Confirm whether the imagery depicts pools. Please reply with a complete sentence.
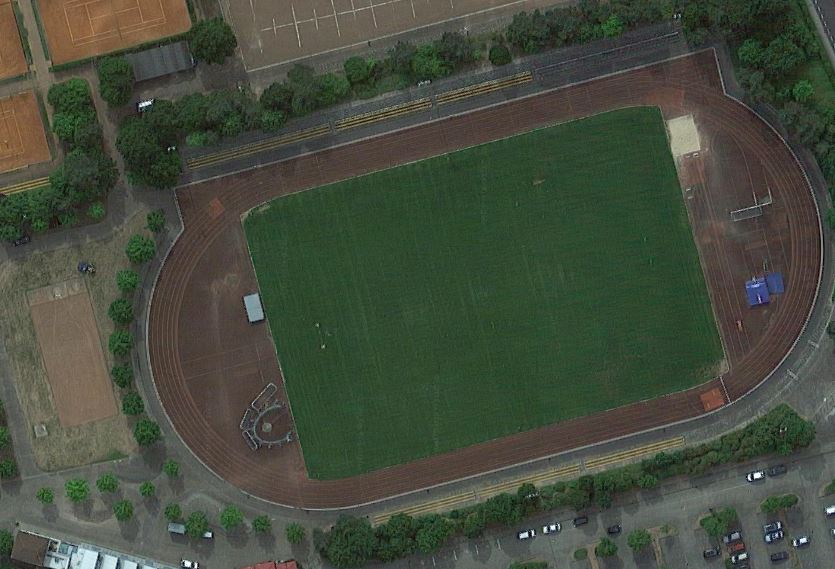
No, there is no pool in the image.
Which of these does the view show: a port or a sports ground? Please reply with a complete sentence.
The picture captures a sports ground.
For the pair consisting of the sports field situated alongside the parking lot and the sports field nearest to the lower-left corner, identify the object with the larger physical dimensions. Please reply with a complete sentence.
The sports field situated alongside the parking lot takes up more space than the sports field nearest to the lower-left corner does.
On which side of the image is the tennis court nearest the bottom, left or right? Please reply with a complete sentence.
The tennis court nearest the bottom sits on the left side.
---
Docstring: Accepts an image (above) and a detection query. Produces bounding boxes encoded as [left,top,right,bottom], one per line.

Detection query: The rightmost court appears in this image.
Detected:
[226,0,527,73]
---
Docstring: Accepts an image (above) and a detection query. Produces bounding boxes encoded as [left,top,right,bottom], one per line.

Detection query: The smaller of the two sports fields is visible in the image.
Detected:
[27,279,118,426]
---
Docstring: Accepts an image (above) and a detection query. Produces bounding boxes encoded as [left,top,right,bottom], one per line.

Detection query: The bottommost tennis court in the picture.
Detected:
[0,90,51,174]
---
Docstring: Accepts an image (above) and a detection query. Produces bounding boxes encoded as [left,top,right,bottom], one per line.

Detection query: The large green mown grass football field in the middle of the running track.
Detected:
[240,105,728,481]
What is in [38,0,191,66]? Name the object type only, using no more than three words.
tennis court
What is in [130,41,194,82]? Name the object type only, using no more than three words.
shed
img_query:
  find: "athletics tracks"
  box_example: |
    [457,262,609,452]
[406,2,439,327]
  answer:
[148,48,822,509]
